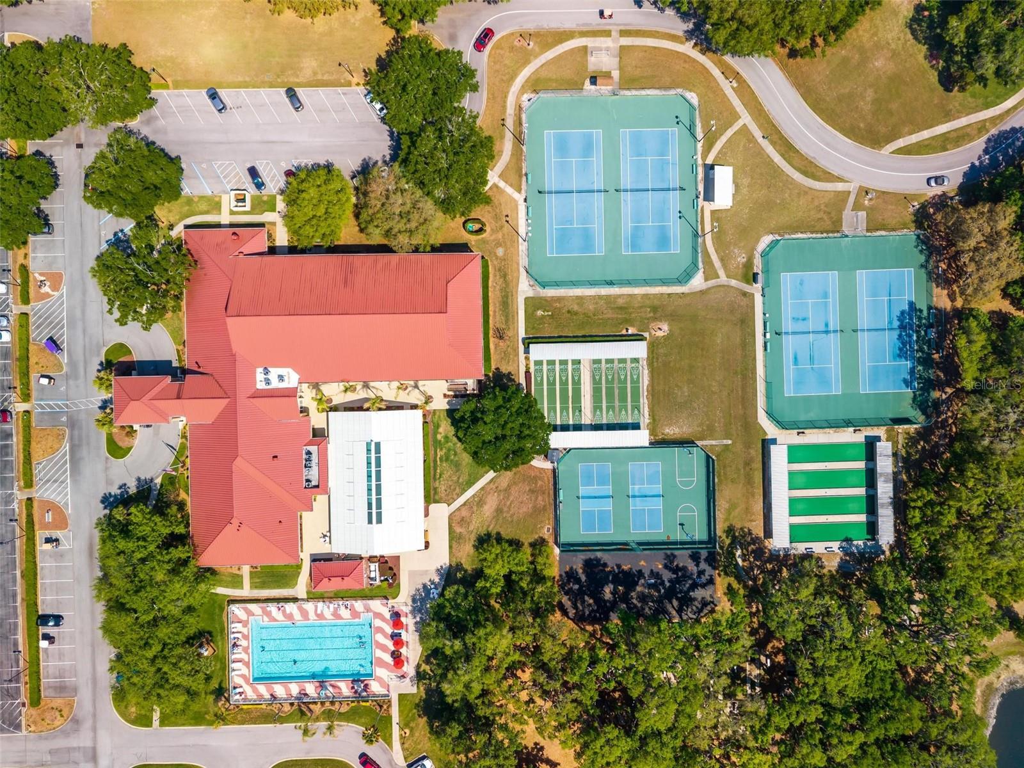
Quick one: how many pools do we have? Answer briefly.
1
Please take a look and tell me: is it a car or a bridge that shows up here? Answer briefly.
car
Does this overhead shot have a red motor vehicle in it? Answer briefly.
Yes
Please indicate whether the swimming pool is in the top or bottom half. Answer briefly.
bottom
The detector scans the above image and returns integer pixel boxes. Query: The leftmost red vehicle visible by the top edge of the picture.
[475,28,494,54]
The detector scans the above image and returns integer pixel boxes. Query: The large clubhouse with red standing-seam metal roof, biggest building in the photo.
[113,227,484,567]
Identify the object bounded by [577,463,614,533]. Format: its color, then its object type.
blue sports court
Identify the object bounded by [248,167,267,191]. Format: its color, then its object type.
blue car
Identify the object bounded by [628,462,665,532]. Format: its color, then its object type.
blue sports court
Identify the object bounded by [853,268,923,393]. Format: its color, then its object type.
blue tennis court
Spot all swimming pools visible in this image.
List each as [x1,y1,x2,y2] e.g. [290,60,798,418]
[231,600,408,703]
